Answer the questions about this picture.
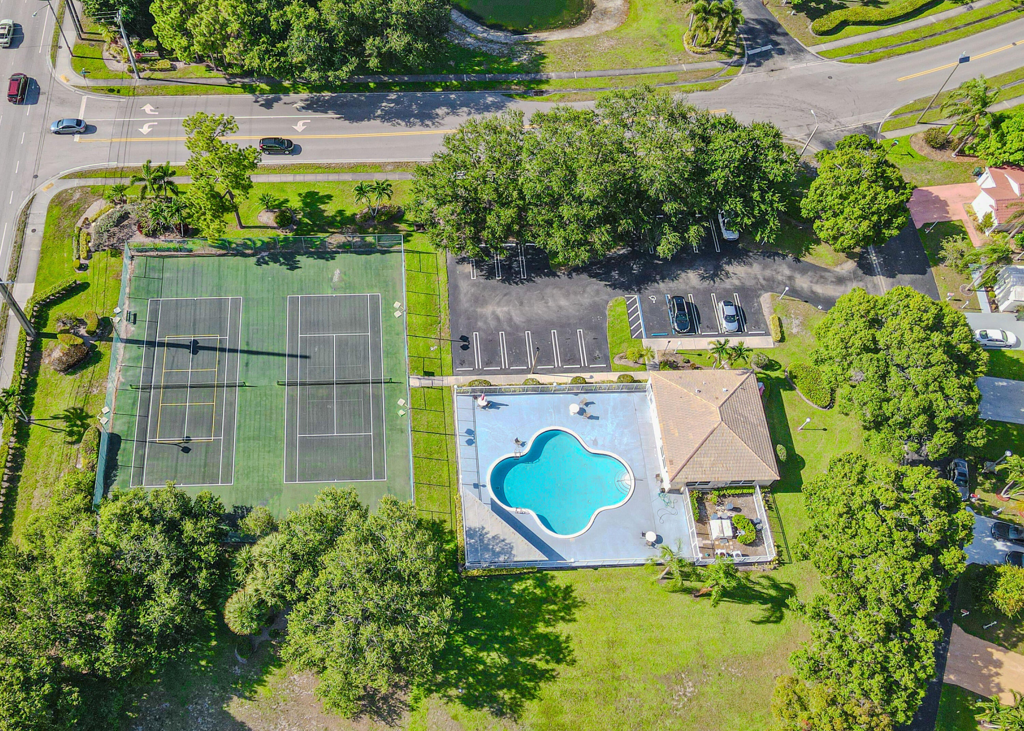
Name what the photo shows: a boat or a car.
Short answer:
car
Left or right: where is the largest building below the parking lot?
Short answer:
right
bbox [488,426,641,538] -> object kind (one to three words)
swimming pool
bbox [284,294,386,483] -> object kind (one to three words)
tennis court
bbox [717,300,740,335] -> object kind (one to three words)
car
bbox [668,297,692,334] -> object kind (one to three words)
car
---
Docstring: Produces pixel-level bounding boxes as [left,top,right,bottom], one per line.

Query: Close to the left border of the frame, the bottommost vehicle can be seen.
[50,118,87,136]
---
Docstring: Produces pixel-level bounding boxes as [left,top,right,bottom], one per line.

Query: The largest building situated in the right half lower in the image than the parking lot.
[647,368,781,490]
